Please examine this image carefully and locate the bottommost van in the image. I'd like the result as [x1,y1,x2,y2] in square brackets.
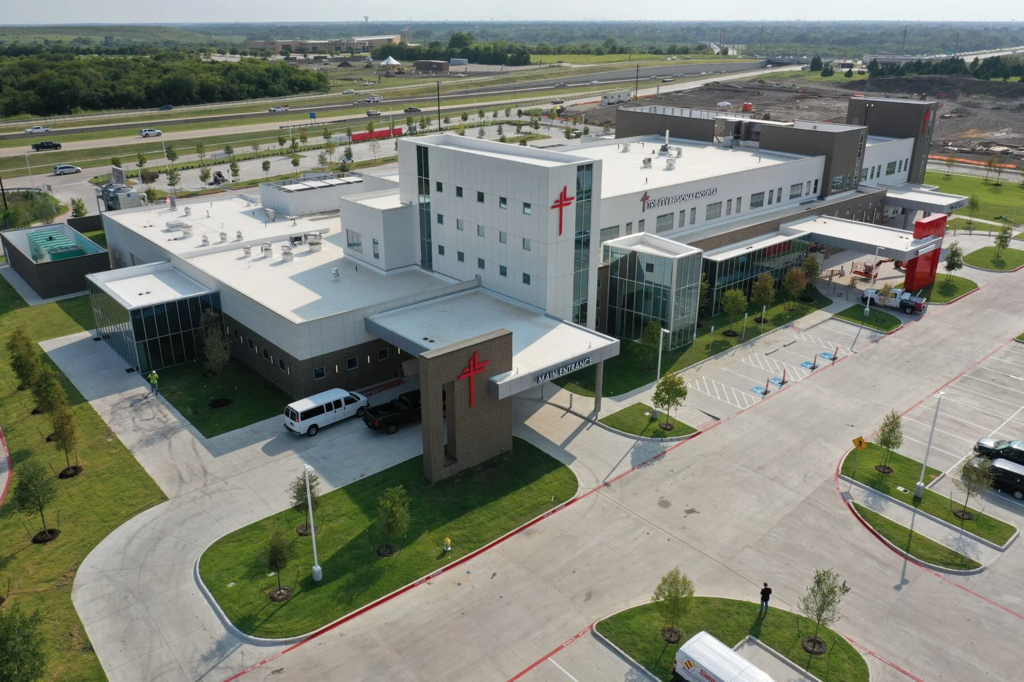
[673,632,789,682]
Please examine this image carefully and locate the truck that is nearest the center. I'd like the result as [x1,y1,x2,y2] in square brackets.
[368,386,421,430]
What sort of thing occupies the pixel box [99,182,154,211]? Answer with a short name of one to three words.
cooling tower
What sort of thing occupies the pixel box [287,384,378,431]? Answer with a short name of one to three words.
van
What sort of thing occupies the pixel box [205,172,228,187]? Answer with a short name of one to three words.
work vehicle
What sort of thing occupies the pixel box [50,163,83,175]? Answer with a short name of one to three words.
vehicle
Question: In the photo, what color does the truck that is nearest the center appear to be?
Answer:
black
